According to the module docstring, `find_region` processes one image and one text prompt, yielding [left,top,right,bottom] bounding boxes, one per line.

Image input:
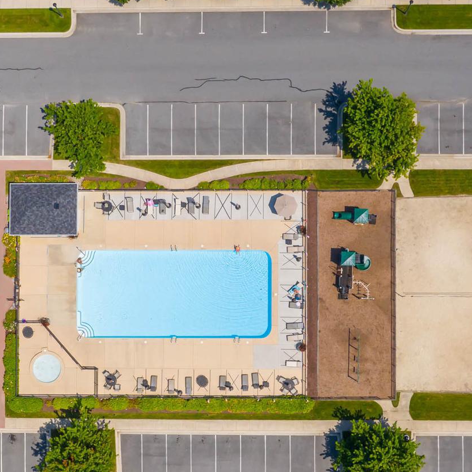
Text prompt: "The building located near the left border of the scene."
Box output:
[9,183,81,237]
